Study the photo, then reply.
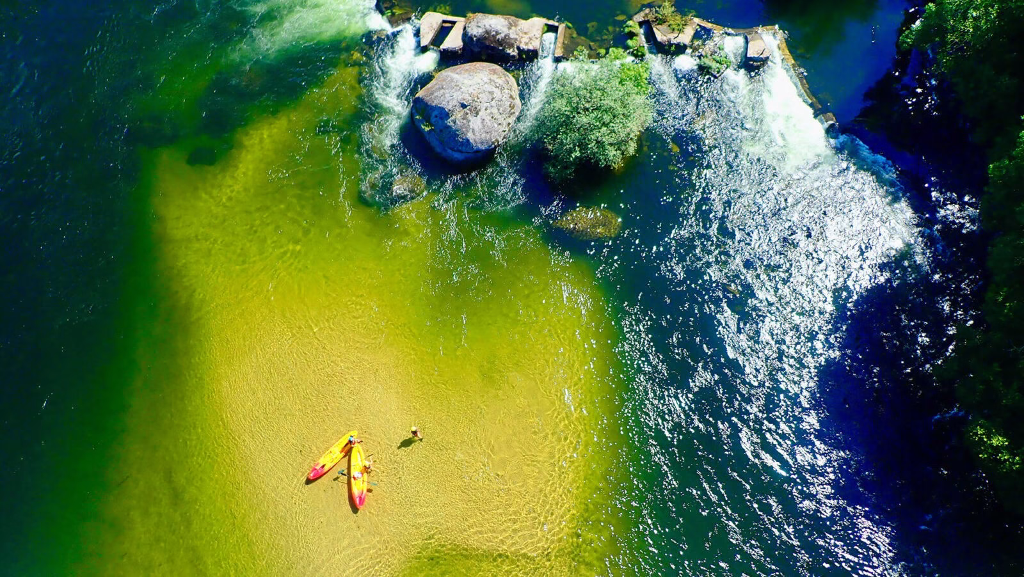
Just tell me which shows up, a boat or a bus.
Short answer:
boat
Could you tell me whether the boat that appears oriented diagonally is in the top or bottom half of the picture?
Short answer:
bottom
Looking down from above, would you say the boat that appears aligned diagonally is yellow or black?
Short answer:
yellow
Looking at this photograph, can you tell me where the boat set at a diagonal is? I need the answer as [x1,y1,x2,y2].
[309,432,356,480]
